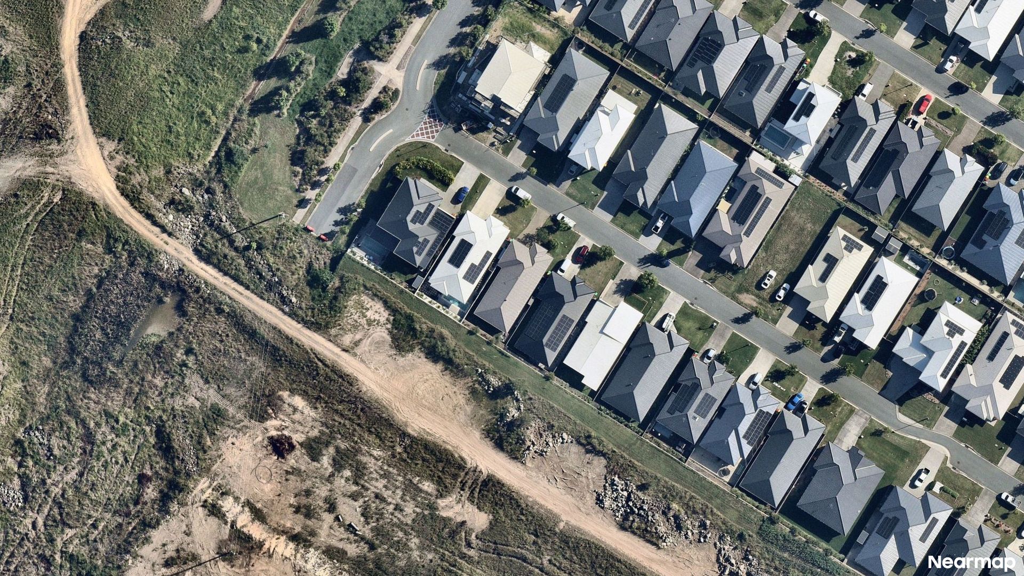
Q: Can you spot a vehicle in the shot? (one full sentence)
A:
Yes, there's a vehicle down there.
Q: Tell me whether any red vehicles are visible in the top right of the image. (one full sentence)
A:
Yes, a red vehicle is visible in the top right of the image.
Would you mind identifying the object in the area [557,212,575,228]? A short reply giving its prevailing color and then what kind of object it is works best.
white car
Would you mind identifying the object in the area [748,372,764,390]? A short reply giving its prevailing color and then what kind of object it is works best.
white car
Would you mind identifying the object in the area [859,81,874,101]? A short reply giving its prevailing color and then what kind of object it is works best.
white vehicle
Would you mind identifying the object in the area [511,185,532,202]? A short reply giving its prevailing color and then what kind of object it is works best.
white vehicle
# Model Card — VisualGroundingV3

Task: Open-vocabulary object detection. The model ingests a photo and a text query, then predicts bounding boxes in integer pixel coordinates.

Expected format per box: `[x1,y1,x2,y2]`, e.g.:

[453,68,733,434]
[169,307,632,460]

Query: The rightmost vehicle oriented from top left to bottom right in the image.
[1001,491,1022,509]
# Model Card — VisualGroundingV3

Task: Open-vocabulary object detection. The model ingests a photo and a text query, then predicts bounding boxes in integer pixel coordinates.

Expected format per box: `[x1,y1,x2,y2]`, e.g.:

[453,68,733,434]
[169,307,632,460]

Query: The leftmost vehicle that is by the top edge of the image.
[809,8,830,22]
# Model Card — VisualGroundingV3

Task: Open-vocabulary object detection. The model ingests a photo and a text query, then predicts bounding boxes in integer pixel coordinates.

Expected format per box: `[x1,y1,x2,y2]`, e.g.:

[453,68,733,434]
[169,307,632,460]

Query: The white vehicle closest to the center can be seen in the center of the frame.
[557,257,572,277]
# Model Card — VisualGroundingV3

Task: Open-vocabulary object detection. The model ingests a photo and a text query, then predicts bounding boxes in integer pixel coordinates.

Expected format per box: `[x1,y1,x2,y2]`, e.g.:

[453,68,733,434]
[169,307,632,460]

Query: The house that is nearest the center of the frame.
[473,239,553,334]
